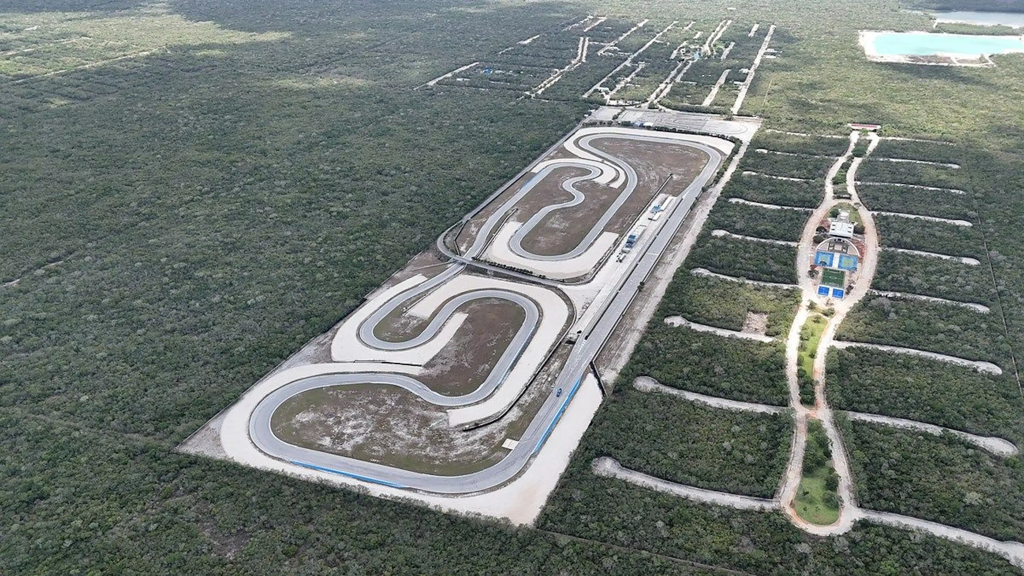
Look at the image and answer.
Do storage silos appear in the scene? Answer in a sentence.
No, no storage silo is visible in the view.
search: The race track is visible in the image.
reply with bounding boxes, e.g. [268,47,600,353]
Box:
[252,134,721,492]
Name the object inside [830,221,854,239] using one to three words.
building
